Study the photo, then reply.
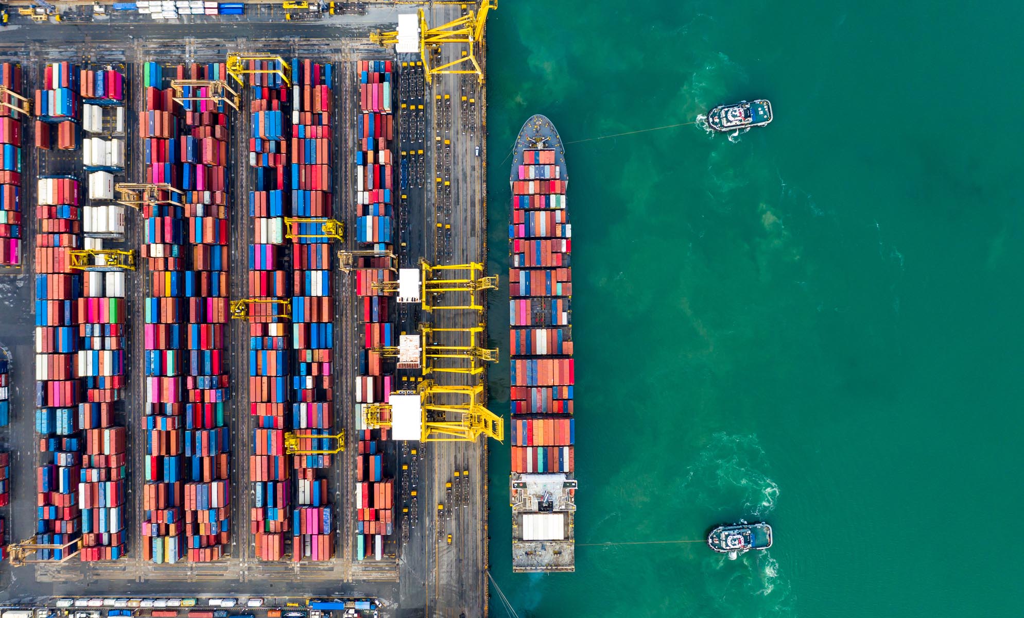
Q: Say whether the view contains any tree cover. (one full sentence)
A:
No, the picture contains no tree cover.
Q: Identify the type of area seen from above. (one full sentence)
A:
This looks like a port.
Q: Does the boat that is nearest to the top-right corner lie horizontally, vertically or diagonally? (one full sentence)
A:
The boat that is nearest to the top-right corner is laid out horizontally.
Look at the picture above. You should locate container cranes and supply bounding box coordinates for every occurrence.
[7,530,84,566]
[226,53,293,89]
[365,375,507,447]
[370,256,499,318]
[229,296,292,322]
[115,184,189,213]
[284,425,348,457]
[68,248,141,274]
[284,216,348,244]
[339,250,399,276]
[171,80,243,114]
[370,318,500,377]
[0,84,32,118]
[369,0,499,90]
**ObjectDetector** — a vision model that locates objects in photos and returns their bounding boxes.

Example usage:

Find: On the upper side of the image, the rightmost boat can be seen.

[706,101,774,132]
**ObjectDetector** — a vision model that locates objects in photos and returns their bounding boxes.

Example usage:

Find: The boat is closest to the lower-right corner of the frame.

[707,525,773,553]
